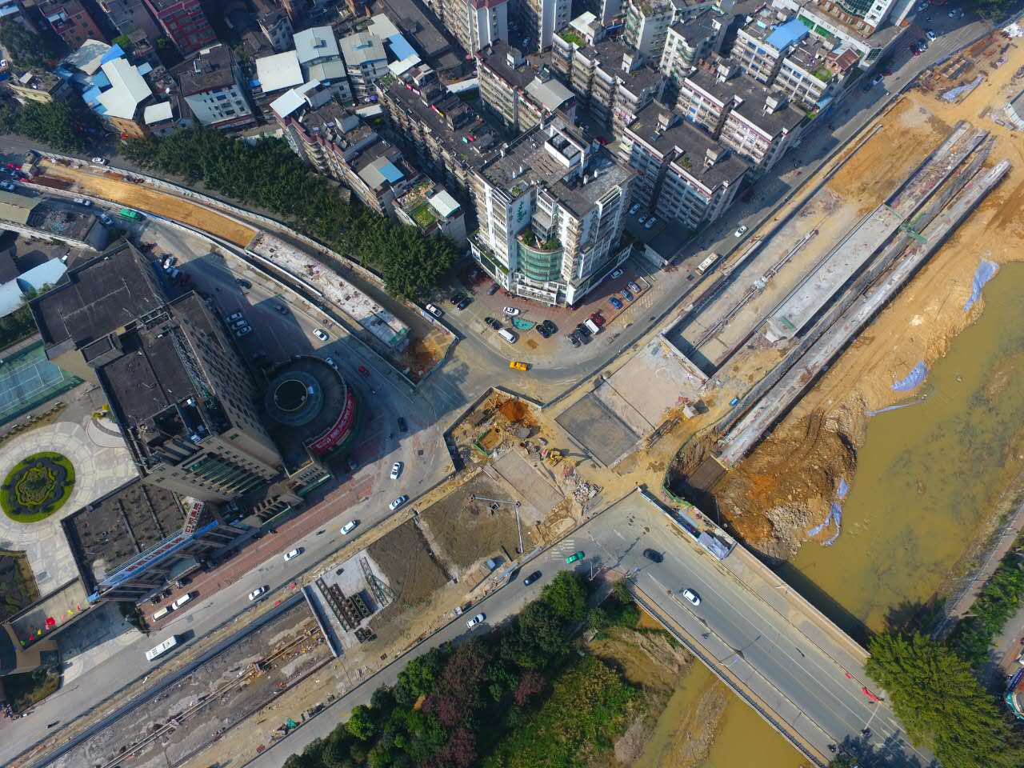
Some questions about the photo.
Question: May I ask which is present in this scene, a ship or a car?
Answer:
car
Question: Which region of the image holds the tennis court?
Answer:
left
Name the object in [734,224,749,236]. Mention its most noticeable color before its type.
white vehicle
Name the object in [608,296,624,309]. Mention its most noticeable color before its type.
blue vehicle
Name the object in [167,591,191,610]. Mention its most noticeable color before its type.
white vehicle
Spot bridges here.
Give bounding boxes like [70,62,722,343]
[631,534,1024,768]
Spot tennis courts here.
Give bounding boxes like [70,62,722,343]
[0,339,82,422]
